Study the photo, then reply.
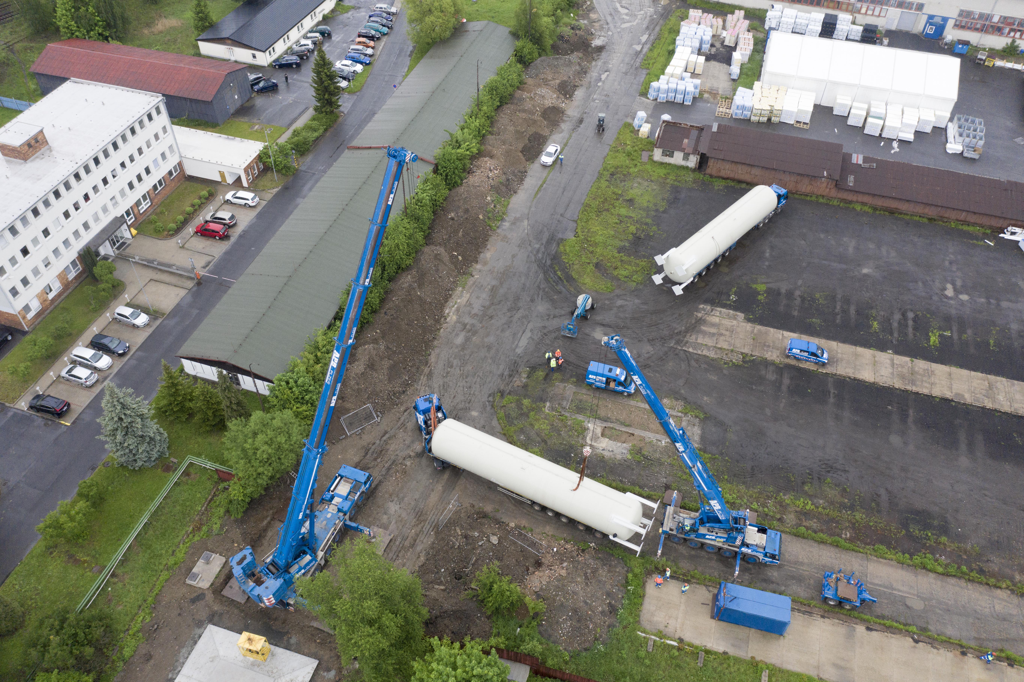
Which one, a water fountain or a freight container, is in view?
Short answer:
freight container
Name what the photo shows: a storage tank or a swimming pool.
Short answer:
storage tank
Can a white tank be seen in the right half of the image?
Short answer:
Yes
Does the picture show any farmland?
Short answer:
No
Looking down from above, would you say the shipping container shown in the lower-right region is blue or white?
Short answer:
blue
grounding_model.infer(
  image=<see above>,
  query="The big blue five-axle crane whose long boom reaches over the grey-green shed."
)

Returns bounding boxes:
[234,146,450,618]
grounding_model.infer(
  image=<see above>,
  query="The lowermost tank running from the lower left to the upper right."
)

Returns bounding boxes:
[652,185,775,300]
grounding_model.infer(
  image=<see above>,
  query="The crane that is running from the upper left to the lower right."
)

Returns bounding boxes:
[583,331,783,584]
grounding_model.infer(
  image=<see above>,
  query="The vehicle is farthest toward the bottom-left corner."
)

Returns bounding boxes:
[26,394,73,419]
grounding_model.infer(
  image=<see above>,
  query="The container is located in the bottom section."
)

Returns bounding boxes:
[714,580,793,637]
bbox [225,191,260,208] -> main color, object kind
white car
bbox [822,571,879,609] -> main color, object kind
blue trailer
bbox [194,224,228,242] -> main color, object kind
red car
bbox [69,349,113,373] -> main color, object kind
white car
